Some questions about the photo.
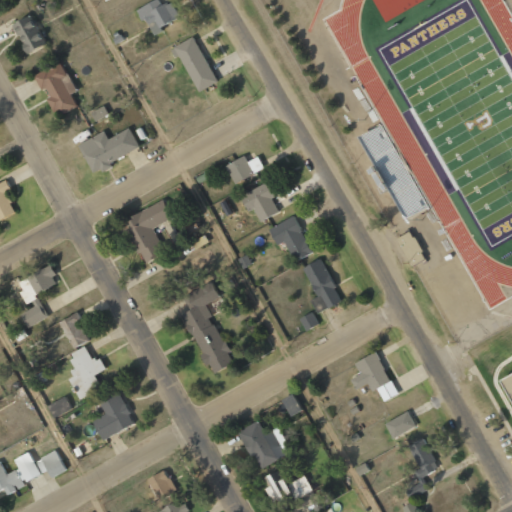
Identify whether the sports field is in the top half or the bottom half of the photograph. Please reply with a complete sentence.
It is in the top half that the sports field appears.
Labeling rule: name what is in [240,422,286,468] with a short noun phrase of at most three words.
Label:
house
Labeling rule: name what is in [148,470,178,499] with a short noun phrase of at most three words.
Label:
house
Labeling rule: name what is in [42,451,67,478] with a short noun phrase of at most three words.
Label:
building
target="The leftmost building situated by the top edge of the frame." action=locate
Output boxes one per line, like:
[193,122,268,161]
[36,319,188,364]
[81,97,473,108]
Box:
[14,14,48,53]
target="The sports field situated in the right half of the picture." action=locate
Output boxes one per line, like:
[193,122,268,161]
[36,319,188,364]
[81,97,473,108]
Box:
[360,0,512,264]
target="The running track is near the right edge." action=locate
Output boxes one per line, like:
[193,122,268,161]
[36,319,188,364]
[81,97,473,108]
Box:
[324,0,512,307]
